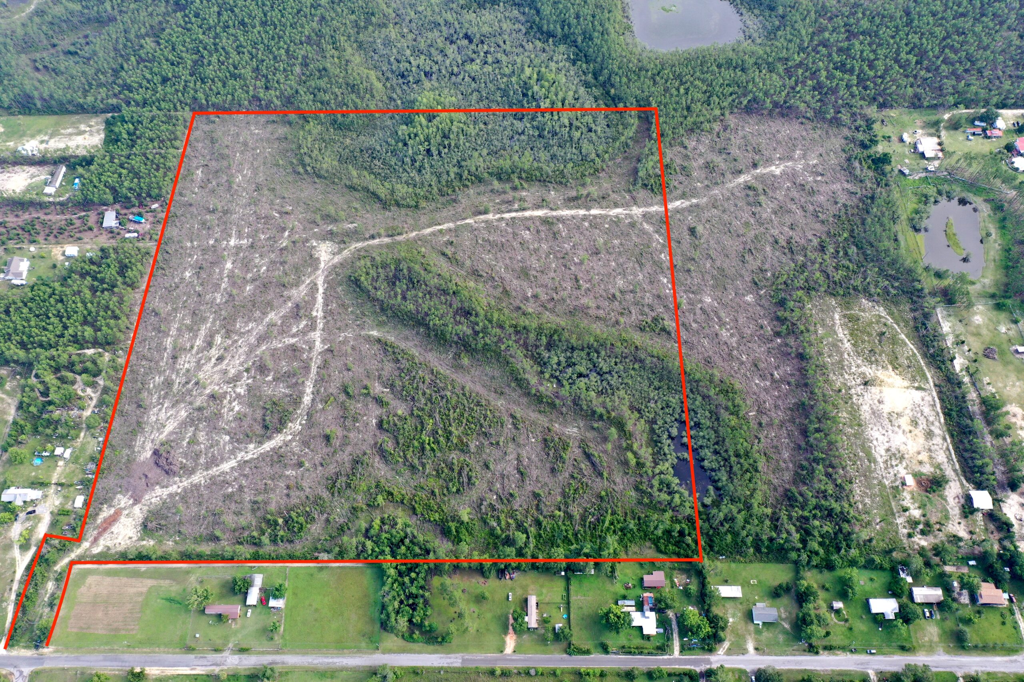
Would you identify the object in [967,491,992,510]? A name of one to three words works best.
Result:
barn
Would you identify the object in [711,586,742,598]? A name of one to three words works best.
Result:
shed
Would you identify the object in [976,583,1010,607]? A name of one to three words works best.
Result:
house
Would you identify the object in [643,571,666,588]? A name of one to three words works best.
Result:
building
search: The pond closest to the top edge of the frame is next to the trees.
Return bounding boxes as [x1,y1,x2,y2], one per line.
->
[924,196,985,278]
